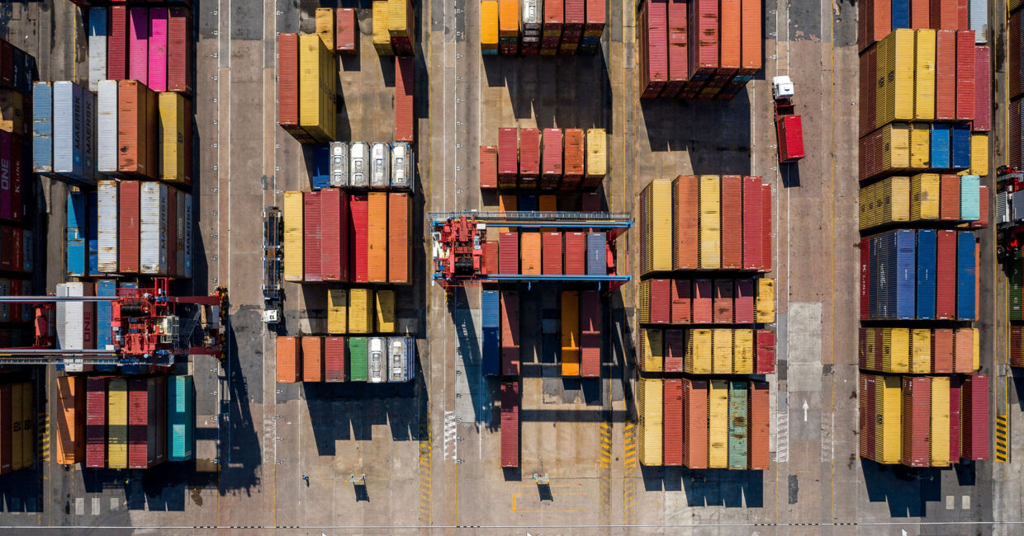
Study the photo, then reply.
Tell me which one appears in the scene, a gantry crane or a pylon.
gantry crane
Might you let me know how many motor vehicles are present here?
2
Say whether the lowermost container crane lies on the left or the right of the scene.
left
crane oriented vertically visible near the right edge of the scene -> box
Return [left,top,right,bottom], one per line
[995,167,1024,252]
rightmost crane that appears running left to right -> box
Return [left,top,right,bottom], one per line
[424,210,636,301]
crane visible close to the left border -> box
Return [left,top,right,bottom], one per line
[0,278,227,371]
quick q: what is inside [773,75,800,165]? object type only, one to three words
truck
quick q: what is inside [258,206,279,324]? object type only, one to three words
truck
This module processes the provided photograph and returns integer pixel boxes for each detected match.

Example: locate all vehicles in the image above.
[773,75,800,165]
[258,206,279,324]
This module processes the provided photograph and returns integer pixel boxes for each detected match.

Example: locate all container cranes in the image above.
[995,167,1024,252]
[0,278,227,371]
[424,210,636,301]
